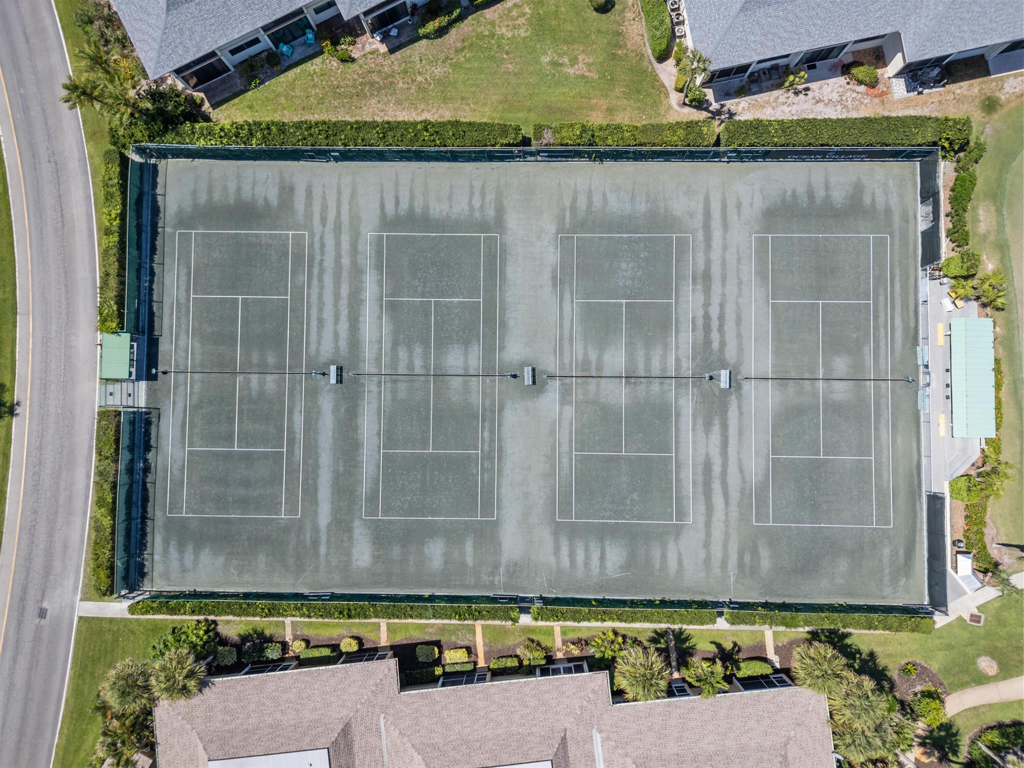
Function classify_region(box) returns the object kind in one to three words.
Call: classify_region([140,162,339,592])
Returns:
tennis court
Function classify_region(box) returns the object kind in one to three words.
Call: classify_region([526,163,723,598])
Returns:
tennis court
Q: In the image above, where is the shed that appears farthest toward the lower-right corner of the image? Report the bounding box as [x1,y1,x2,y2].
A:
[950,552,983,592]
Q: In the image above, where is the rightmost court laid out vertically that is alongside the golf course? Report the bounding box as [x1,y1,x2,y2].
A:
[722,163,926,605]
